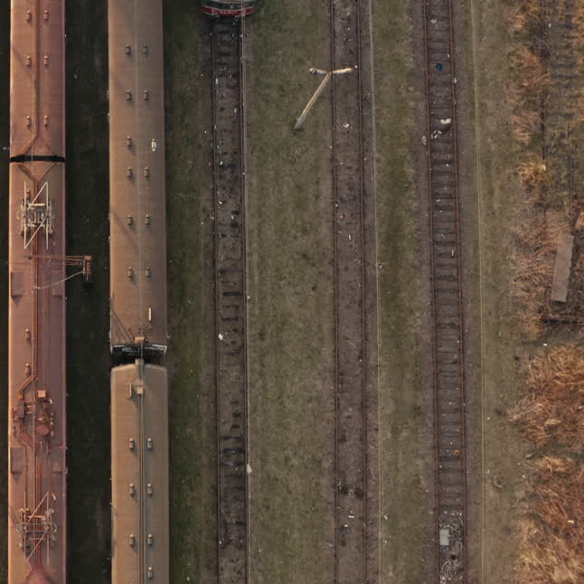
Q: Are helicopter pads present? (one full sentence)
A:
No, no helicopter pad is visible in the view.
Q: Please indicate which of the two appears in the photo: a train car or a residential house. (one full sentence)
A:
There is a train car in the scene.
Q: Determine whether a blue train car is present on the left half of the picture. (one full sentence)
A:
No, no blue train car can be made out on the left half of the picture.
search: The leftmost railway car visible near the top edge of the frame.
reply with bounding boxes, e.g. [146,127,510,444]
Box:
[11,0,66,165]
